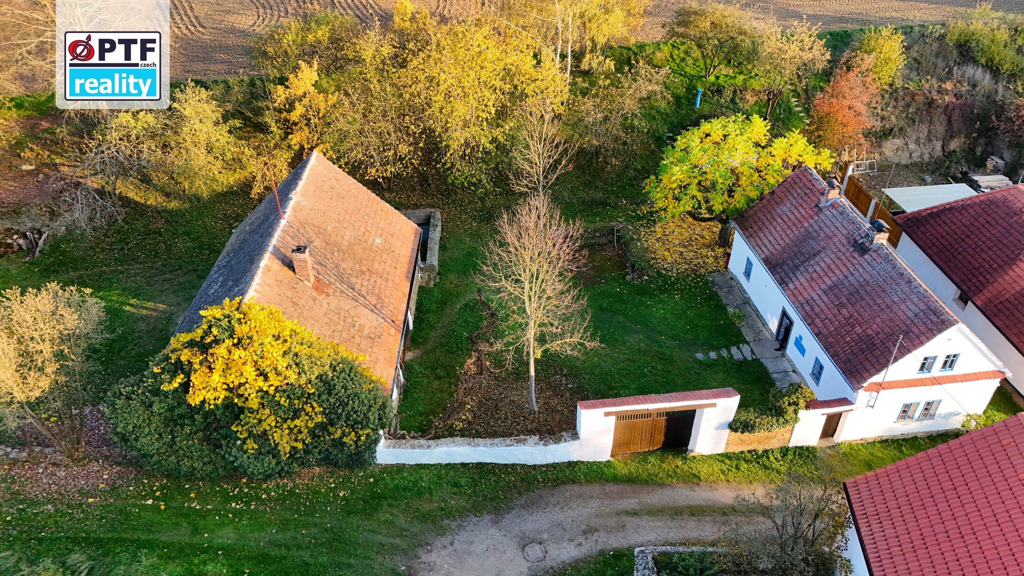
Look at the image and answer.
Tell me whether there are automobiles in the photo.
No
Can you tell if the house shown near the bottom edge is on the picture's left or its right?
right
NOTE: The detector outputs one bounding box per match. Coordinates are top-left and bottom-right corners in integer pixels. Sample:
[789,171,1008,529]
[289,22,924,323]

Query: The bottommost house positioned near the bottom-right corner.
[826,410,1024,576]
